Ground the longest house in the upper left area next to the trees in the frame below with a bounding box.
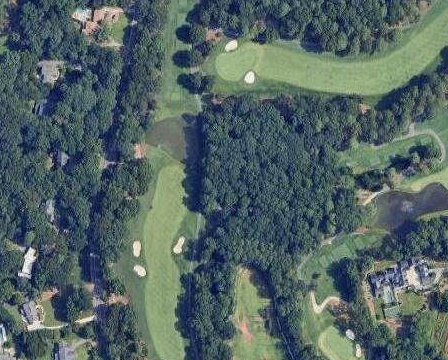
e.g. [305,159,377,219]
[82,6,121,34]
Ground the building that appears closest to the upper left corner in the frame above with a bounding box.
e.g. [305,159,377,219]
[39,62,59,84]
